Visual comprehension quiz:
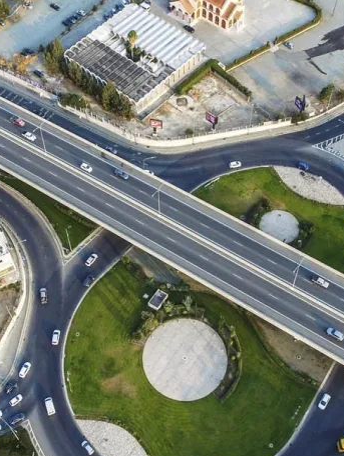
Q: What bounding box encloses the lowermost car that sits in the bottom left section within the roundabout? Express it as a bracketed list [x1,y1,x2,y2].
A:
[80,438,94,455]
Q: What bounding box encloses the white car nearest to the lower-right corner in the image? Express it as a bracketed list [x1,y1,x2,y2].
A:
[317,393,330,409]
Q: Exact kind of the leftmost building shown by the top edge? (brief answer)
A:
warehouse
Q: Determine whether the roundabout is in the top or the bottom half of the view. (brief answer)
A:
bottom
